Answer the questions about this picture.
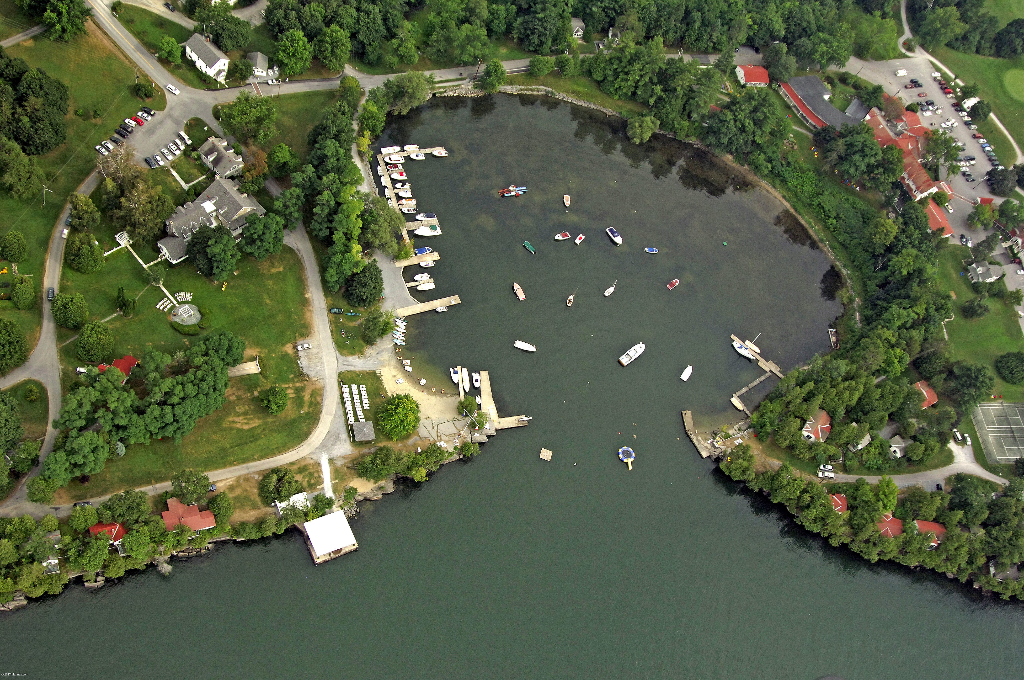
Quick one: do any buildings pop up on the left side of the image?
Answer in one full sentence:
Yes, I can see a building on the left side of the image.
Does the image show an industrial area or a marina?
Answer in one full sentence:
The picture captures a marina.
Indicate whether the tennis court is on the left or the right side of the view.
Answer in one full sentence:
You can find the tennis court on the right side of the picture.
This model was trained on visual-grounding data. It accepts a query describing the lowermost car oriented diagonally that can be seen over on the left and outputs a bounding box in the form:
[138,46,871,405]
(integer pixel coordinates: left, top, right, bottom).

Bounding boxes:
[30,454,43,470]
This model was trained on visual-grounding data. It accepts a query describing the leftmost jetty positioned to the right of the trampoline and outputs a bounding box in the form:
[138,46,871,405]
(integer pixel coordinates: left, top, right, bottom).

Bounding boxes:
[681,411,712,459]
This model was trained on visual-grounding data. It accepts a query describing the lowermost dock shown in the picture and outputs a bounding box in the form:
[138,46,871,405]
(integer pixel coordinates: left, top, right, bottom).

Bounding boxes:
[295,510,358,565]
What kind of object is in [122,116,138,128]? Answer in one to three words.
vehicle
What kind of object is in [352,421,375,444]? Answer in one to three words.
building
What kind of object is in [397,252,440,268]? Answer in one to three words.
pier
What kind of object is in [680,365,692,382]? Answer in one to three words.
boat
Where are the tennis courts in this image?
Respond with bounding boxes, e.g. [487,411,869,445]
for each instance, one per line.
[971,401,1024,464]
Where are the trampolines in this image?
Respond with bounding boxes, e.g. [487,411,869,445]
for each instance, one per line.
[618,446,635,470]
